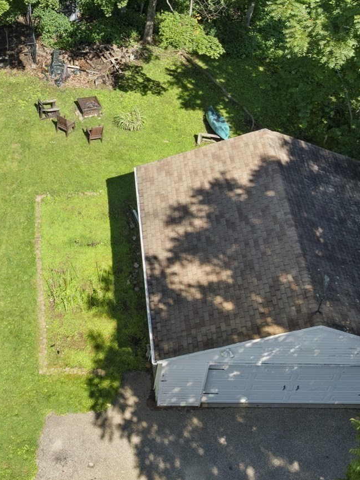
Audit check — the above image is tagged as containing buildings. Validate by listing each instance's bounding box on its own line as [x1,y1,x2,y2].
[132,128,360,408]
